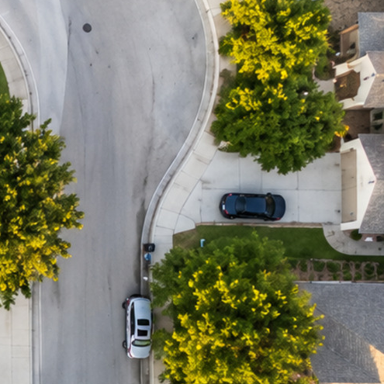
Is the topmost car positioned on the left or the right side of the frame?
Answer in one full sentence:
It is on the right.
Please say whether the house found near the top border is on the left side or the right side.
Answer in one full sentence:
The house found near the top border sits on the right side.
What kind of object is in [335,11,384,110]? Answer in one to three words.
house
